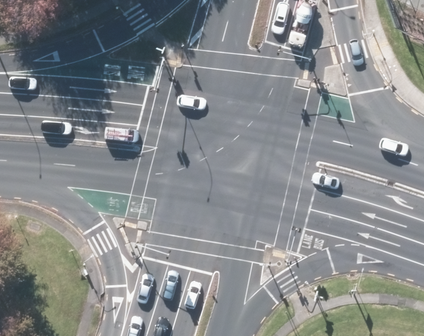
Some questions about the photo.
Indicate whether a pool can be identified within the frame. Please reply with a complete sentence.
No, the photo shows no pool.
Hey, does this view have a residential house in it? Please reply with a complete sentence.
No, the frame has no residential house in it.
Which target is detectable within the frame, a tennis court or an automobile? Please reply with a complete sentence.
The image shows an automobile.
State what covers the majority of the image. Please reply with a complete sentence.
The scene is dominated by paved ground.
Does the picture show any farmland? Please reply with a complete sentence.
No, there's no farmland in this view.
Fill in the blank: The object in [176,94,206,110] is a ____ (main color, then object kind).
white car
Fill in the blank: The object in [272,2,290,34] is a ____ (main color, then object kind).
white car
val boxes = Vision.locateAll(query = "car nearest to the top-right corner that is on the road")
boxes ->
[348,38,364,66]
